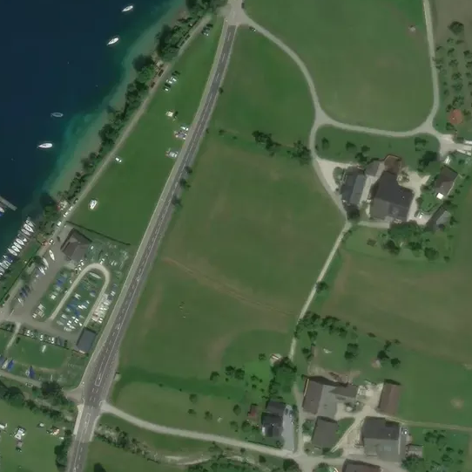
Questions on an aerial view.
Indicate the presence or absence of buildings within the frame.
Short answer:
Yes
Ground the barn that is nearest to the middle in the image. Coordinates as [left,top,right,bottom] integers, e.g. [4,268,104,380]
[341,172,366,204]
